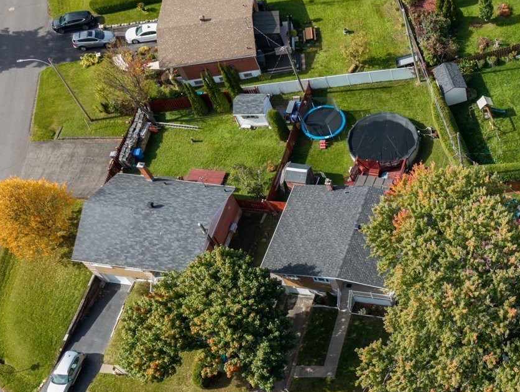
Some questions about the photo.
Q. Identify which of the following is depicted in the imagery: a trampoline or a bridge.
trampoline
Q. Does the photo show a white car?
Yes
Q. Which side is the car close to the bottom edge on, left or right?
left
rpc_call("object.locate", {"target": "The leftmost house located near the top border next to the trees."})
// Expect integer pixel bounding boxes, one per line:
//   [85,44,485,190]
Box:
[157,0,259,85]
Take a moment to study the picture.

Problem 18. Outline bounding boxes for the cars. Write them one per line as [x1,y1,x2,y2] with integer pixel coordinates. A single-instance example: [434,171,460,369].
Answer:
[70,28,114,49]
[51,9,97,31]
[45,348,90,392]
[125,22,157,42]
